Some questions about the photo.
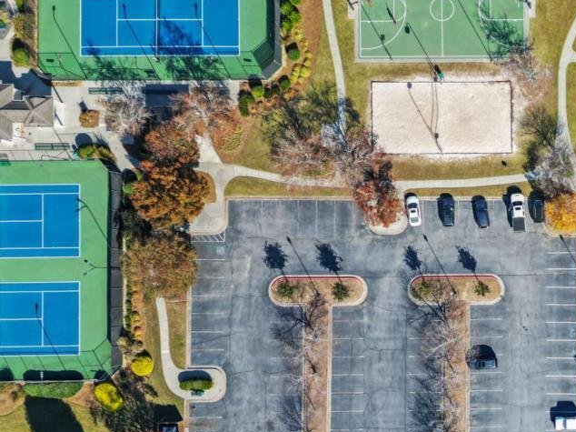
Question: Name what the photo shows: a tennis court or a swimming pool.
tennis court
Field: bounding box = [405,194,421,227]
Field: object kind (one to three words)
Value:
car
